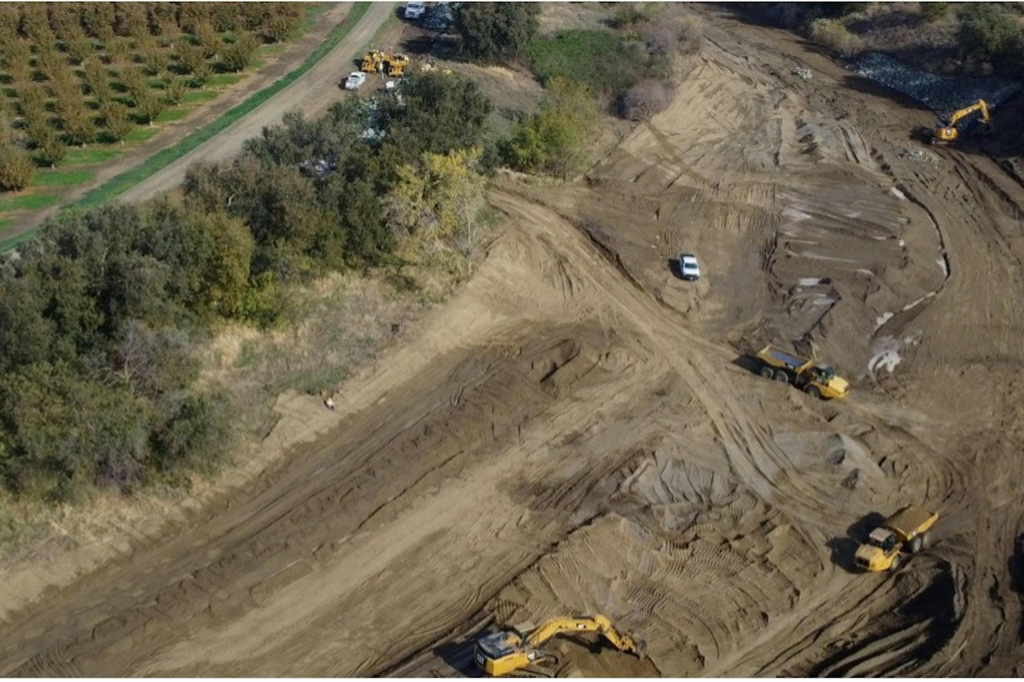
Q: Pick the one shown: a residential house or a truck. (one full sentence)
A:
Visible in the photo is a truck.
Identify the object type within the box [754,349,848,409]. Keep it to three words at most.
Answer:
truck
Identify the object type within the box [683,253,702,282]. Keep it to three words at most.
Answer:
vehicle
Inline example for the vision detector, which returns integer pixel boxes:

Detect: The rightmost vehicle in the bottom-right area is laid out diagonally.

[850,502,934,578]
